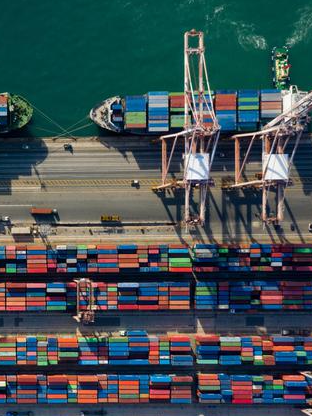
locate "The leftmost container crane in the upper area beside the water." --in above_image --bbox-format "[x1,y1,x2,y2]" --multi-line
[146,30,223,228]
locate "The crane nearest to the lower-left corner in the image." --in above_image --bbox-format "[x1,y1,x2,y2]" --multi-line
[67,273,93,323]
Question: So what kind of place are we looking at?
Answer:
port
